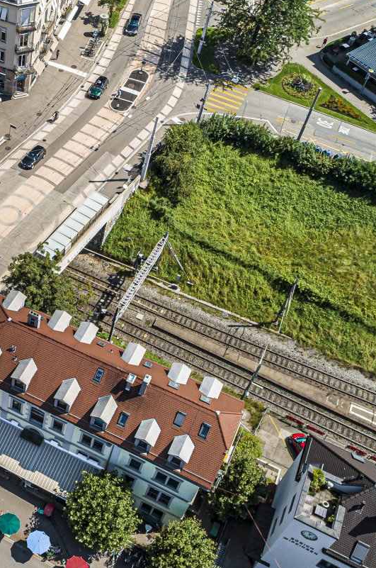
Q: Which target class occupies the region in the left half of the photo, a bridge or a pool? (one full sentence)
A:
Visible in the left half of the photo is a bridge.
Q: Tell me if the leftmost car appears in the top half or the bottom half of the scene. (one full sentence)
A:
Seen from above, the leftmost car lies in the top half of the view.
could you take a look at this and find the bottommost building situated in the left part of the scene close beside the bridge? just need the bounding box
[0,292,242,518]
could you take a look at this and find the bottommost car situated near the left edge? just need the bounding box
[19,144,49,169]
